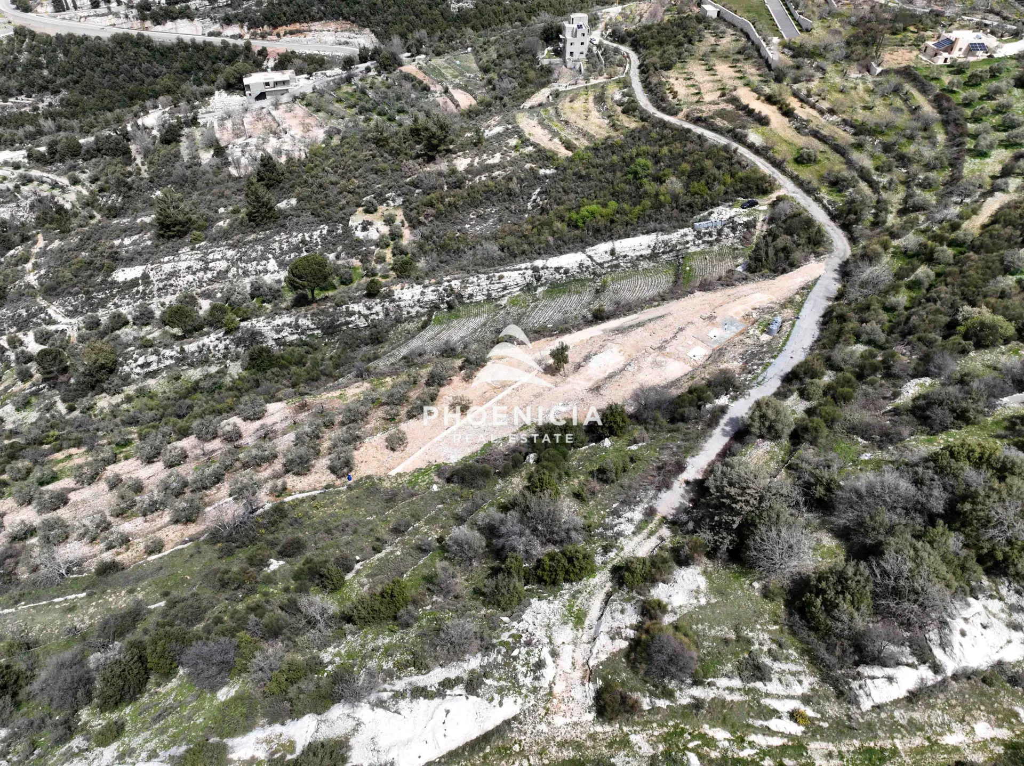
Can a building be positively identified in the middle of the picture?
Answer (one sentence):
No, I can find no building in the middle of the picture.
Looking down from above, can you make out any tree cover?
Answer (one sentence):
Yes, tree cover can be seen from above here.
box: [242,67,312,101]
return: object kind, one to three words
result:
house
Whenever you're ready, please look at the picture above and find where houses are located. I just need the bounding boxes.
[561,10,591,60]
[242,67,312,101]
[914,27,994,68]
